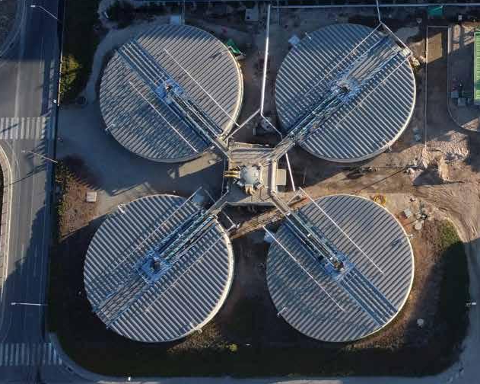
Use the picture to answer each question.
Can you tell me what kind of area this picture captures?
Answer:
industrial area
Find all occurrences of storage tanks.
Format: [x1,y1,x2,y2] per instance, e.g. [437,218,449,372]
[265,191,415,345]
[83,190,237,345]
[99,25,247,167]
[273,24,418,167]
